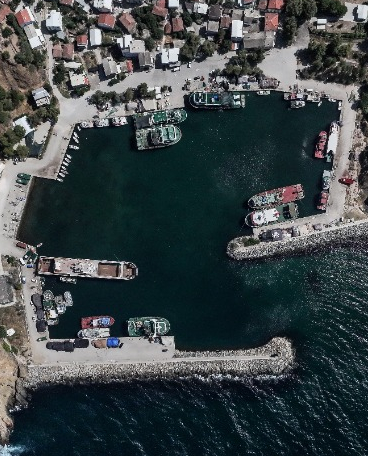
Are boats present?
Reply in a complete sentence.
Yes, this view includes a boat.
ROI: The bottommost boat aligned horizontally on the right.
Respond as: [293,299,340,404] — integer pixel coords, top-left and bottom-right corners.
[249,202,303,226]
